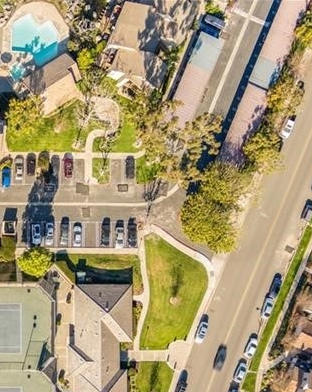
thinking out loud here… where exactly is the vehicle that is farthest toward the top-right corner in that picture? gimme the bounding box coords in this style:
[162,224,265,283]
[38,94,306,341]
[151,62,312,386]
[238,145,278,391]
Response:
[203,12,229,28]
